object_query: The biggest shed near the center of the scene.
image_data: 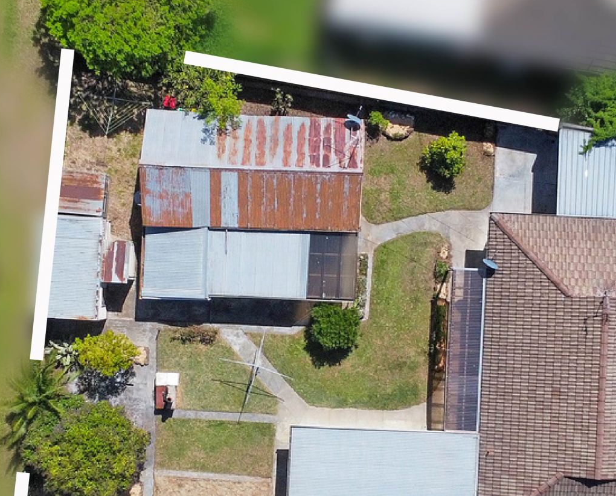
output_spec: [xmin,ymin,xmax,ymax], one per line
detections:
[138,106,367,301]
